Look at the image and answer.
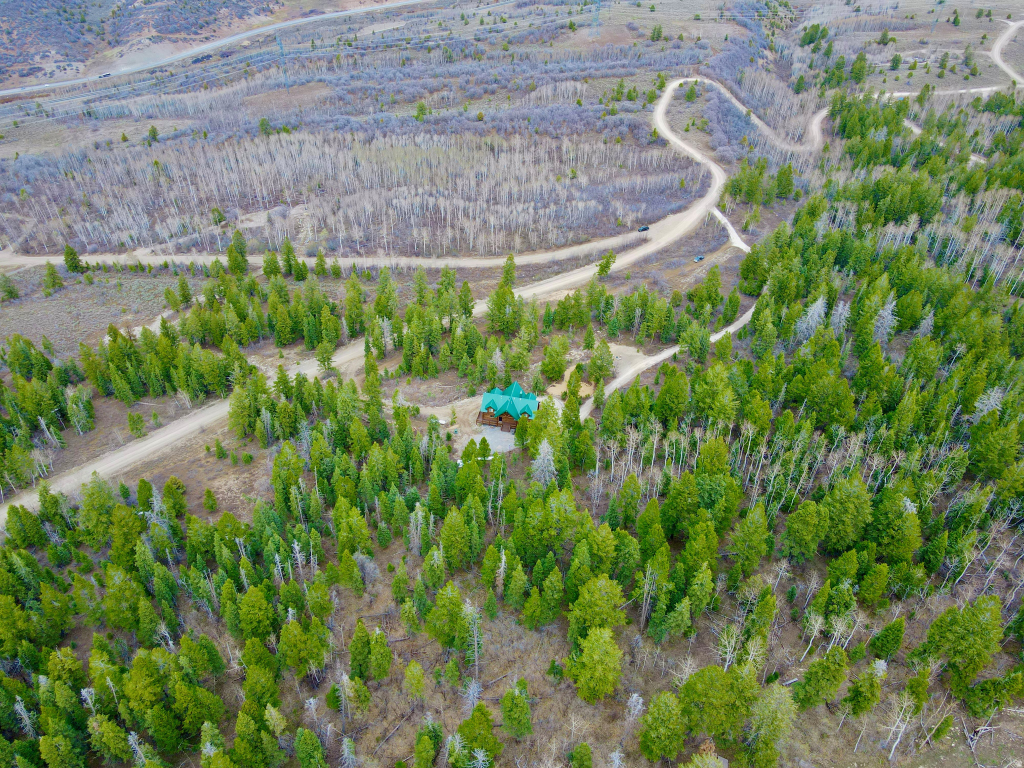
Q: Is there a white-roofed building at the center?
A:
No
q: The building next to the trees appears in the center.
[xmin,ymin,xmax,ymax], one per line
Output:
[473,383,540,438]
